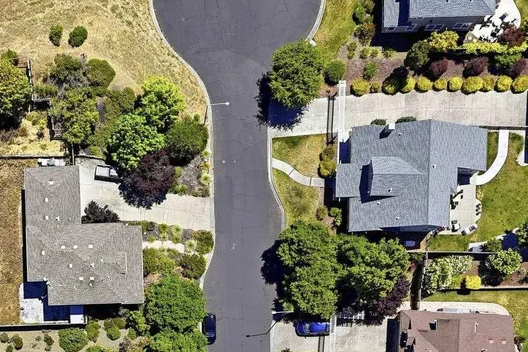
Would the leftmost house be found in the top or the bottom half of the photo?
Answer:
bottom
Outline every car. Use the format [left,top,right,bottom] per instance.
[298,320,330,337]
[202,311,218,345]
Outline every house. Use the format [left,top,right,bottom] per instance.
[23,165,144,304]
[390,310,517,352]
[380,0,495,33]
[333,120,489,231]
